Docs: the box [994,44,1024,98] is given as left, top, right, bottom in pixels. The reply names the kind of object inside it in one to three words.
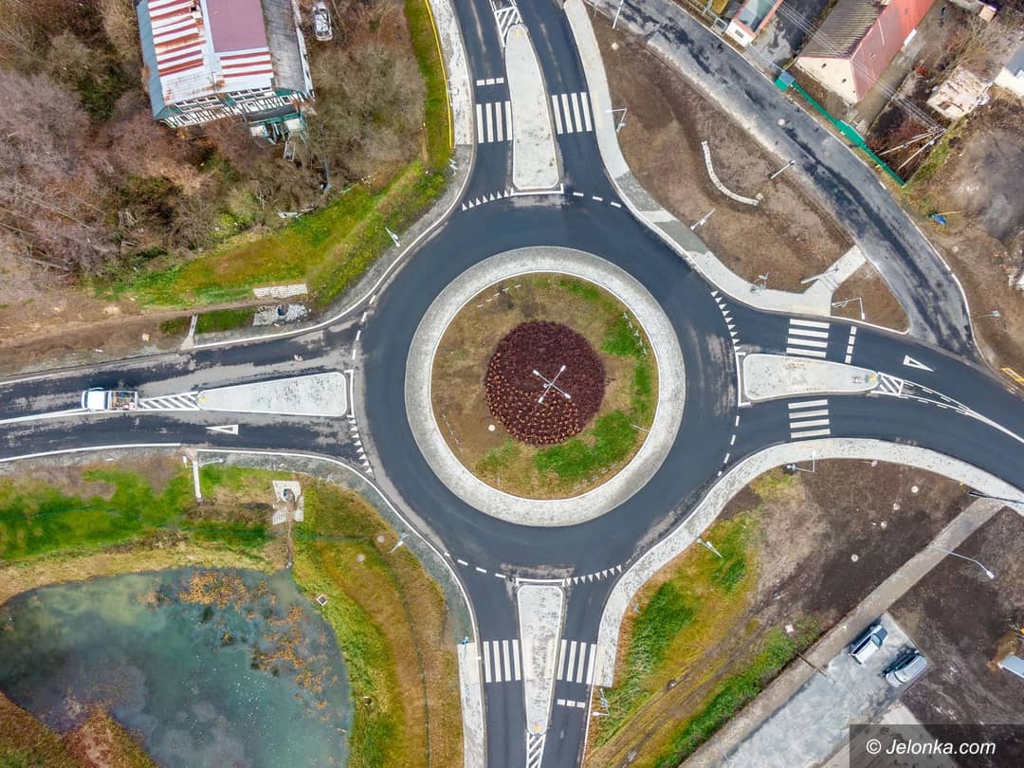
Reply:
house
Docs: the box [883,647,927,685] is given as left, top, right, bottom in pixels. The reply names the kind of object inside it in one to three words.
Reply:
car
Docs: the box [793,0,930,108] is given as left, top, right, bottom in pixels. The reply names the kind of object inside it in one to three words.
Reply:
house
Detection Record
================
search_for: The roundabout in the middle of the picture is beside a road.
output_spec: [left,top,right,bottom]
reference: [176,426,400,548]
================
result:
[344,184,751,587]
